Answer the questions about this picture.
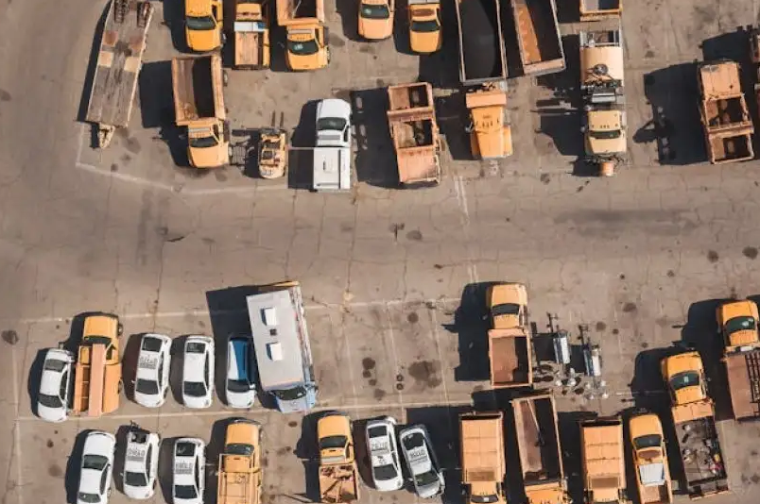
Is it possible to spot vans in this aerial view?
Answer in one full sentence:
Yes, you can see a van in this photo.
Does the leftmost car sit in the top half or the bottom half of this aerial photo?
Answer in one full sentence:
The bottom half of the photo is where the leftmost car is.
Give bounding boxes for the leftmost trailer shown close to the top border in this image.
[88,0,155,150]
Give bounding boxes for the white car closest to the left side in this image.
[33,347,80,422]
